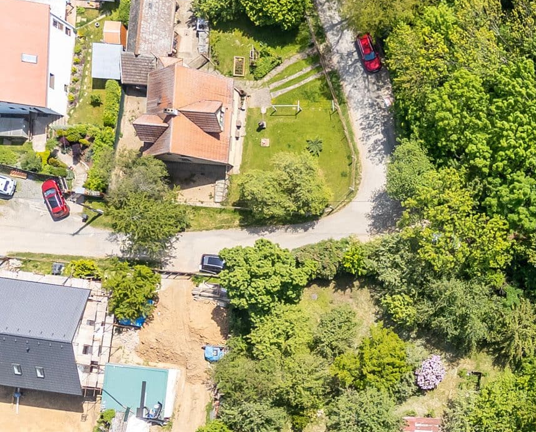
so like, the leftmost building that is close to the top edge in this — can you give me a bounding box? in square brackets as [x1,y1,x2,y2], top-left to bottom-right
[0,0,77,114]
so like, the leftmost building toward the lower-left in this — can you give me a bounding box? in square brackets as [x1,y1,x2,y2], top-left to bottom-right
[0,277,107,398]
